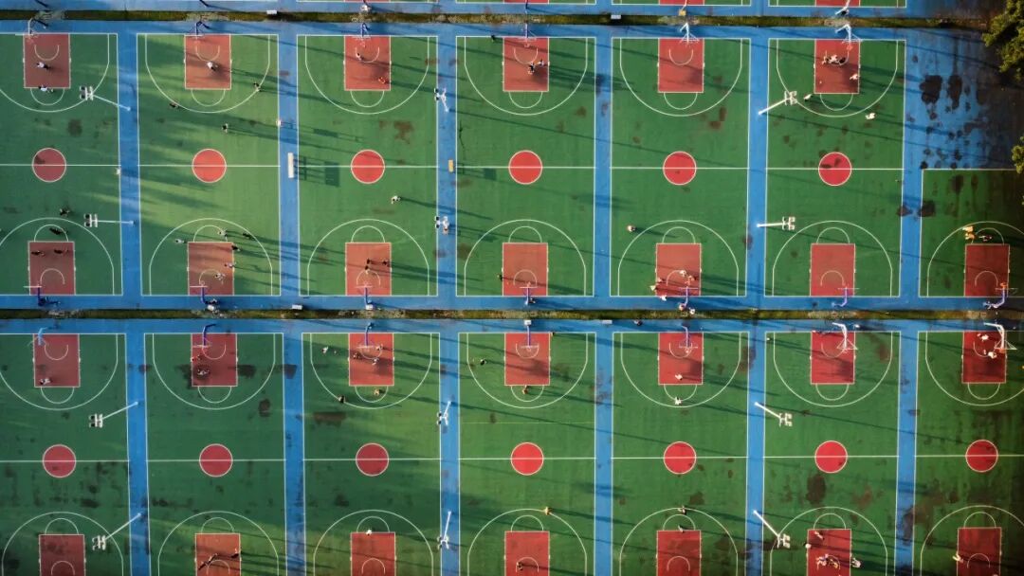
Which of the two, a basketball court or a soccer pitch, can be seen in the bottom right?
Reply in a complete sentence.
Looking in the bottom right, you will find a basketball court.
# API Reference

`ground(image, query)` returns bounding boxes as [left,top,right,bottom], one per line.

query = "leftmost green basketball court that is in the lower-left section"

[0,333,131,576]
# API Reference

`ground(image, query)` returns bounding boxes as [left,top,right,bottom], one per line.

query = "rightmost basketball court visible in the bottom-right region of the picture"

[912,331,1024,576]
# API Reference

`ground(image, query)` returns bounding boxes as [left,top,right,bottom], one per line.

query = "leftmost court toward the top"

[0,32,123,296]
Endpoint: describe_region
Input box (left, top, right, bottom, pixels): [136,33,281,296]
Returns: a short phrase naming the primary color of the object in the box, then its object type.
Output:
green basketball court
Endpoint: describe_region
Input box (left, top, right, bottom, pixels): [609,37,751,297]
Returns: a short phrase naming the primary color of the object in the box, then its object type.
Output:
green basketball court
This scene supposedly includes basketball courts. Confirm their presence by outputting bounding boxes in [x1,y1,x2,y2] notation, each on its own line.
[611,331,749,576]
[297,35,438,296]
[912,331,1024,576]
[0,333,131,576]
[762,331,901,576]
[136,33,281,296]
[302,332,442,576]
[458,332,596,576]
[456,36,596,297]
[919,169,1024,297]
[612,0,751,6]
[764,38,906,297]
[0,32,123,296]
[144,333,287,576]
[769,0,907,7]
[609,37,751,297]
